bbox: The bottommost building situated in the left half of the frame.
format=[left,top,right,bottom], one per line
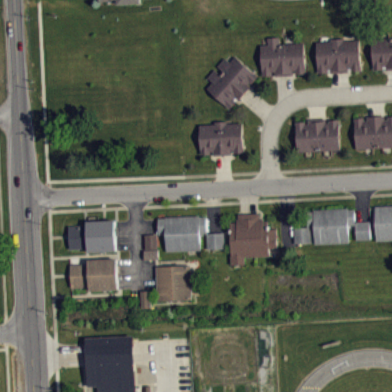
[84,338,138,392]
